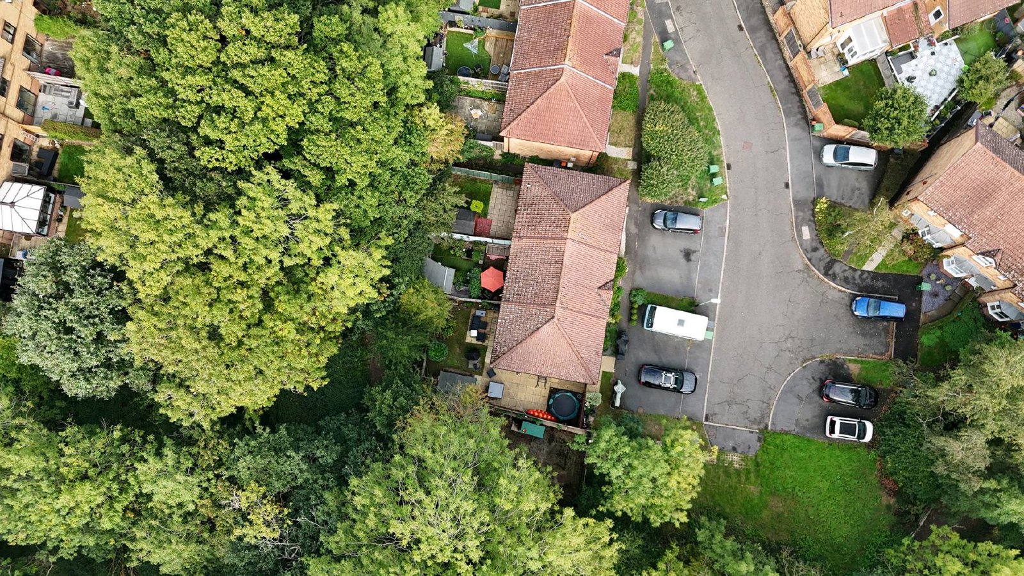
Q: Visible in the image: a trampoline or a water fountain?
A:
trampoline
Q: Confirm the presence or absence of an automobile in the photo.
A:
Yes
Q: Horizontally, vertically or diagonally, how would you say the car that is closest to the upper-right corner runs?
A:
horizontally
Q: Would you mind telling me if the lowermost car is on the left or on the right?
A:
right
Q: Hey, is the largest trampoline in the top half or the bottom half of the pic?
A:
bottom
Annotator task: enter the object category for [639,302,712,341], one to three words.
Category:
van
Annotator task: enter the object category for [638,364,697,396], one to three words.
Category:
car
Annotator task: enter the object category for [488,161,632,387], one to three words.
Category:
house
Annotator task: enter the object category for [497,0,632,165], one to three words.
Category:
house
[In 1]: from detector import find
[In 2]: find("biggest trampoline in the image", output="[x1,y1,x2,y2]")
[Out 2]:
[550,390,581,421]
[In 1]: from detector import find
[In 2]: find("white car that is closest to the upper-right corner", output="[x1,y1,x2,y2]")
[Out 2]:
[819,141,880,172]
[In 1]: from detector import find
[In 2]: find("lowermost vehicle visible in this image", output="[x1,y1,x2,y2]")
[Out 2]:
[823,414,874,445]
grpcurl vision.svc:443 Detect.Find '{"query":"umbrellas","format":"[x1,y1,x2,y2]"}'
[482,268,503,293]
